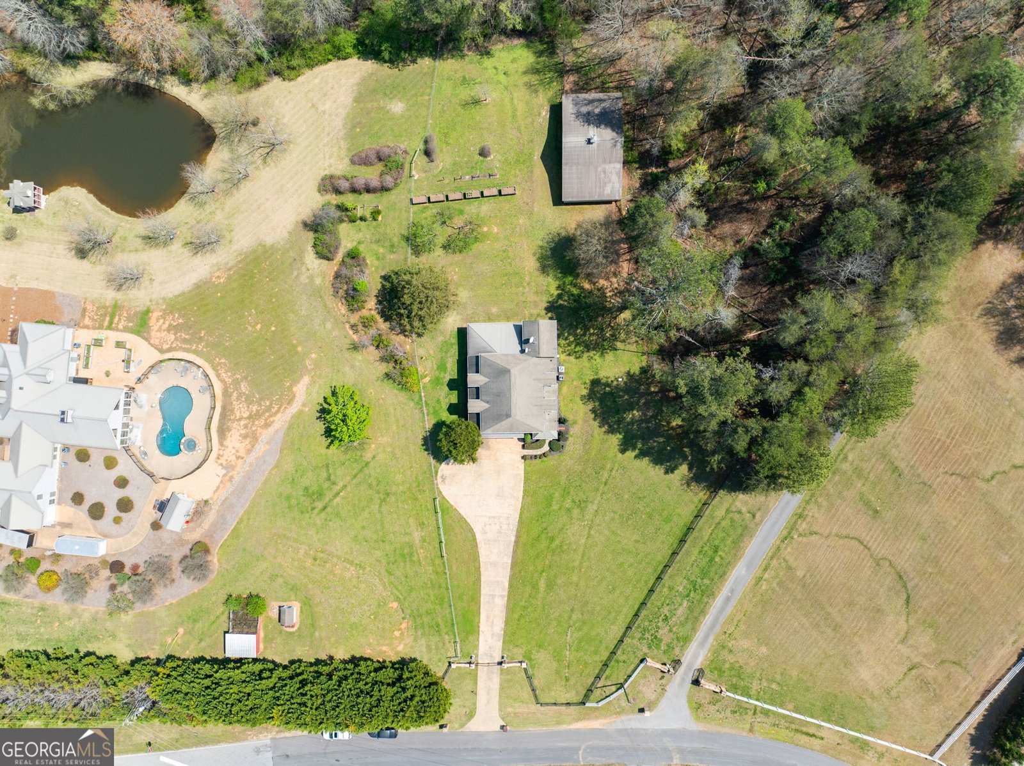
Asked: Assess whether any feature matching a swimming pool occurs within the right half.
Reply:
No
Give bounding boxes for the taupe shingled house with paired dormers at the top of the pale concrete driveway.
[468,319,558,440]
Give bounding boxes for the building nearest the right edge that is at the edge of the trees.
[562,93,623,206]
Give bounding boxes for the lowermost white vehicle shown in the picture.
[324,727,353,743]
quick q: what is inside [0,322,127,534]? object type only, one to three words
house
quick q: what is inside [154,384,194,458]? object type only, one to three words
swimming pool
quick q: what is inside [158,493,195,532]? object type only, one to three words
shed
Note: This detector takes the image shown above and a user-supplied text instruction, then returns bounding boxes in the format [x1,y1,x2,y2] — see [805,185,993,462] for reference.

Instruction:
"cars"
[368,726,398,741]
[324,727,353,743]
